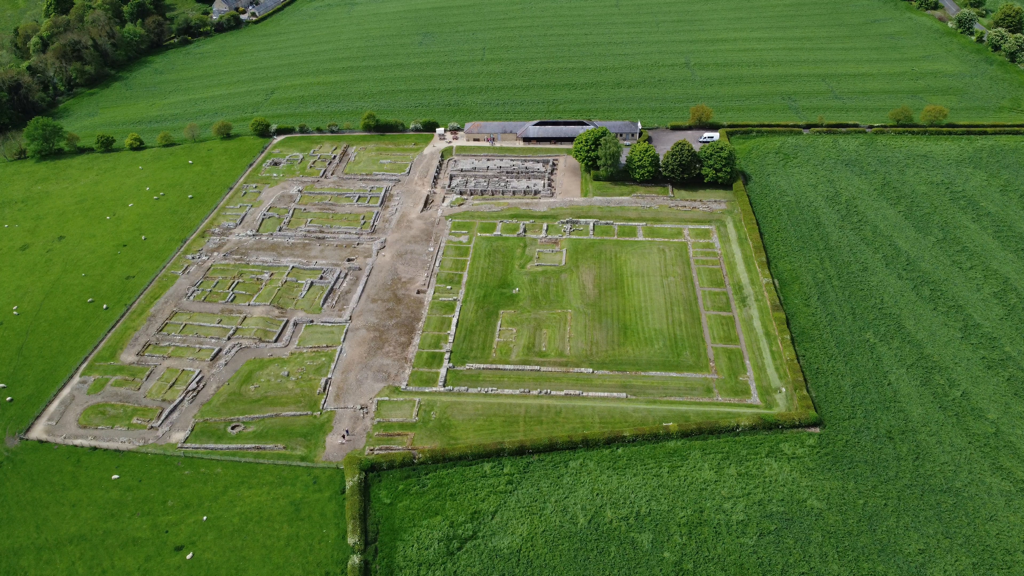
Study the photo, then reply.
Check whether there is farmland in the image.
Yes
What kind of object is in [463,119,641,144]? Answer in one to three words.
building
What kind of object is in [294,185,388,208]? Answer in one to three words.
building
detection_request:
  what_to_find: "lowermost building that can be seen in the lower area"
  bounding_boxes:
[365,431,437,455]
